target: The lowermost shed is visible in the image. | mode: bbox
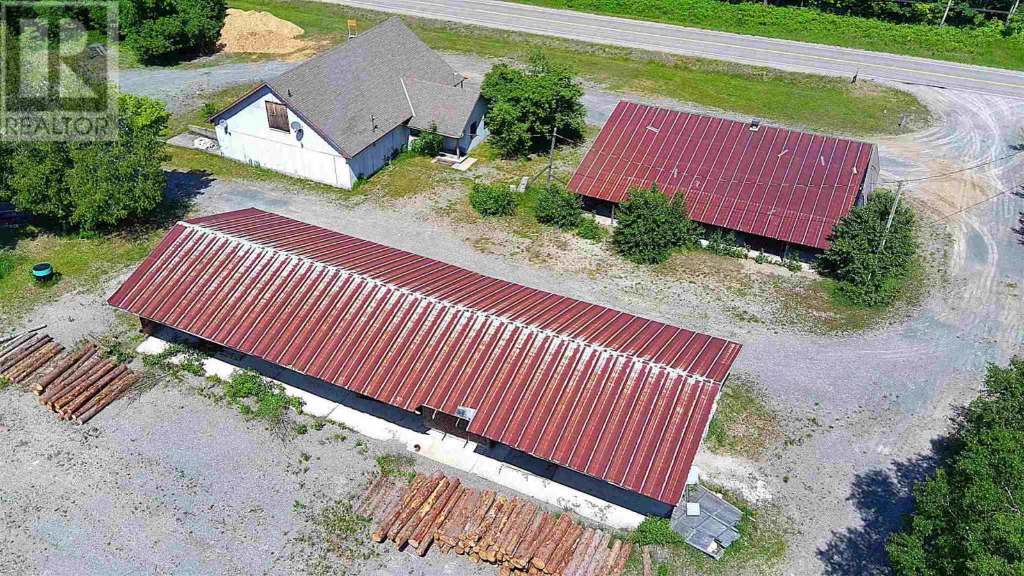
[106,207,744,531]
